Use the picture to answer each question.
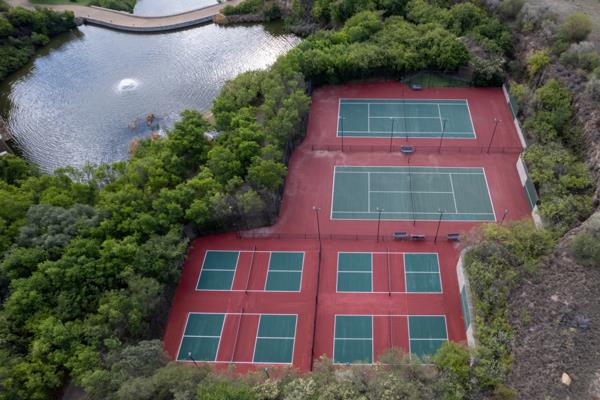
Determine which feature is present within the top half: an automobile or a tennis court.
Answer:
tennis court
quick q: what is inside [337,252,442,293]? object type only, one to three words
sports court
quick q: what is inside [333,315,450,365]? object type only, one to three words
sports court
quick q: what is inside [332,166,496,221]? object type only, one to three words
tennis court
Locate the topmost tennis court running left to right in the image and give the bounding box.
[337,99,476,138]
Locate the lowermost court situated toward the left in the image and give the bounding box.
[176,313,297,363]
